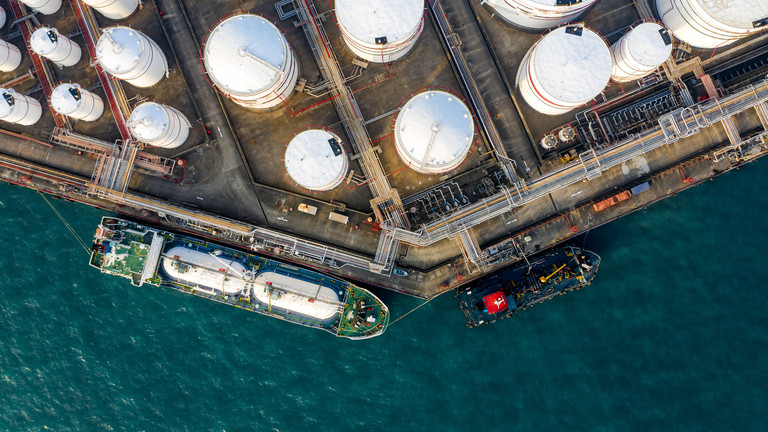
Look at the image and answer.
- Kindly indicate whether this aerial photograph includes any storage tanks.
Yes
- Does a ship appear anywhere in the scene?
Yes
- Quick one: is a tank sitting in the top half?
Yes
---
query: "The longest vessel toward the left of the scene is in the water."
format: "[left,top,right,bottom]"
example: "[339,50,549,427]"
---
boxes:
[89,216,389,342]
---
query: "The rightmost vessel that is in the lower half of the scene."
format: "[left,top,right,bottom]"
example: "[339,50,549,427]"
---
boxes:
[456,244,602,329]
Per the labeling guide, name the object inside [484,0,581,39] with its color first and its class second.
white storage tank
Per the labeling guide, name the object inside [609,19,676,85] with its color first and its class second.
white storage tank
